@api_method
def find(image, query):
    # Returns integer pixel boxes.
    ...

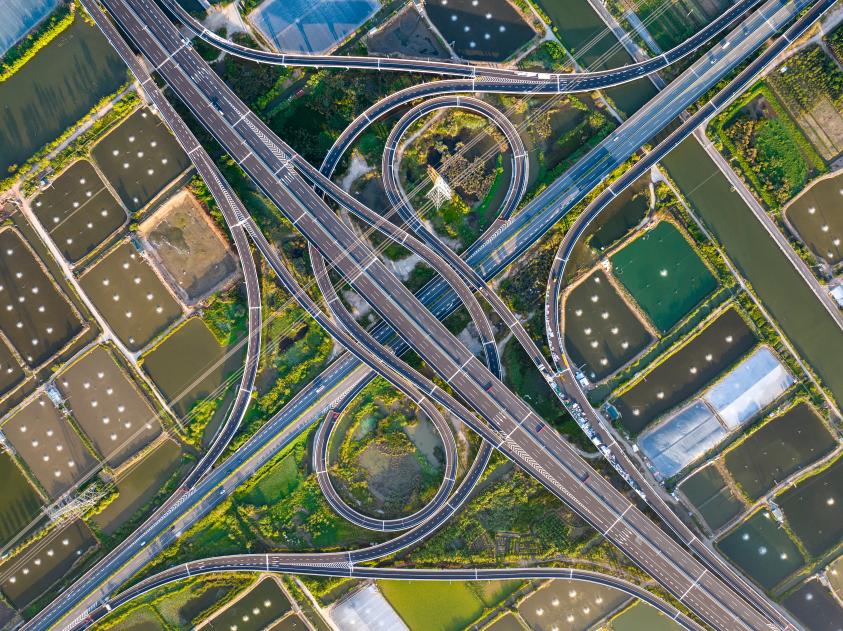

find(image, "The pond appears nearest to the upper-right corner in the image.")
[783,171,843,266]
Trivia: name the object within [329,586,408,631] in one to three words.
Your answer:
greenhouse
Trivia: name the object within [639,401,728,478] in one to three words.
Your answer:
greenhouse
